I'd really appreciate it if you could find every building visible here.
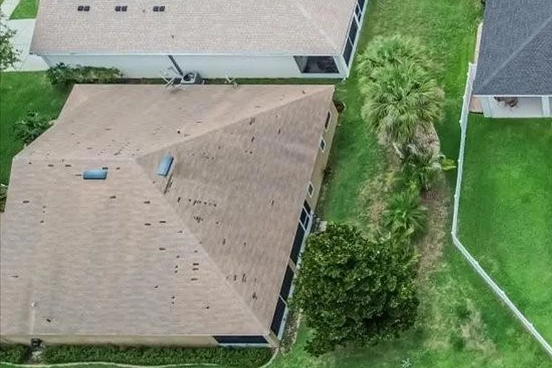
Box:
[466,0,552,119]
[0,85,333,346]
[28,0,367,79]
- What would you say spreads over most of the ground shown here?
buildings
